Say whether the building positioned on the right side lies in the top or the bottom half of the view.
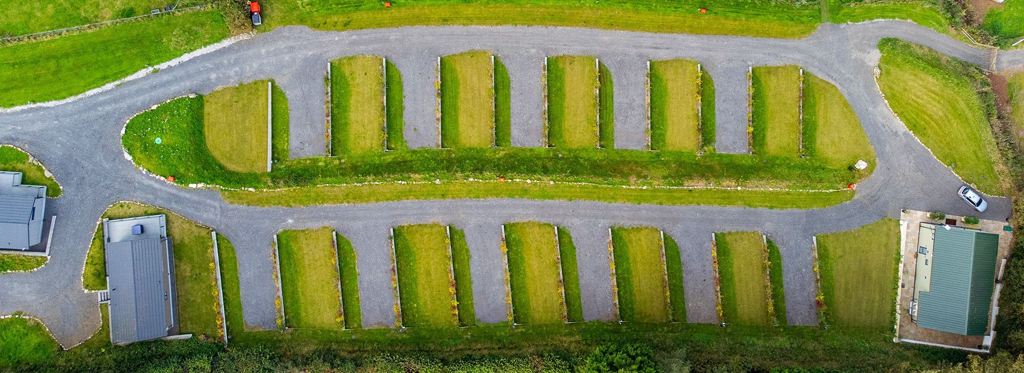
bottom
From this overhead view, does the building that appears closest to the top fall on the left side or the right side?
left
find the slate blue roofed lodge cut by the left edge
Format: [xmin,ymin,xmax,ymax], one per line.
[0,172,48,250]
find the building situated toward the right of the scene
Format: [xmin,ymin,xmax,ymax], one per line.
[910,223,999,336]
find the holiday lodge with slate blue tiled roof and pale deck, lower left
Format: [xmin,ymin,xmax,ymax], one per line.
[100,214,176,344]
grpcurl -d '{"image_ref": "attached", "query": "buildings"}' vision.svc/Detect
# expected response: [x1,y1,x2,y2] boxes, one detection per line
[910,223,999,336]
[100,214,176,344]
[0,172,48,250]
